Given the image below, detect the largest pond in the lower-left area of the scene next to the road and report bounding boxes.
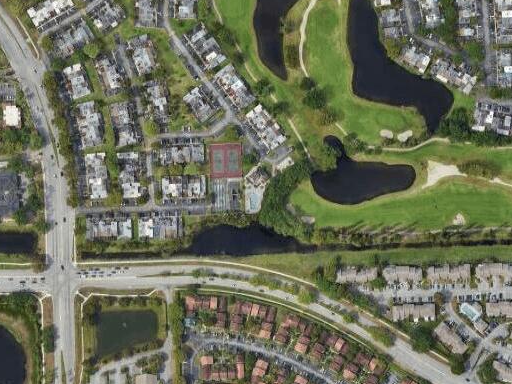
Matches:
[93,309,159,361]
